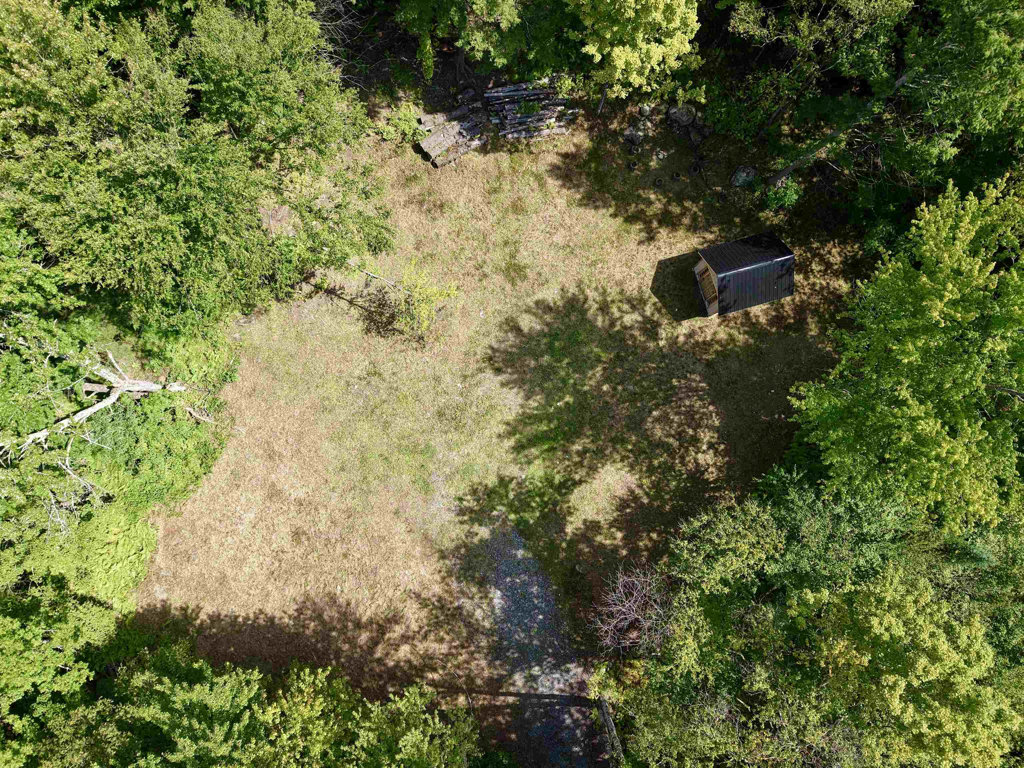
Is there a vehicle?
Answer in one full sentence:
No, there is no vehicle in the image.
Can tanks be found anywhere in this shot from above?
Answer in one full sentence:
No, I can't see a single tank in this photo.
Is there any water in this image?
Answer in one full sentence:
No, the picture contains no water.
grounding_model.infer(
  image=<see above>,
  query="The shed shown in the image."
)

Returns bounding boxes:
[691,227,795,314]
